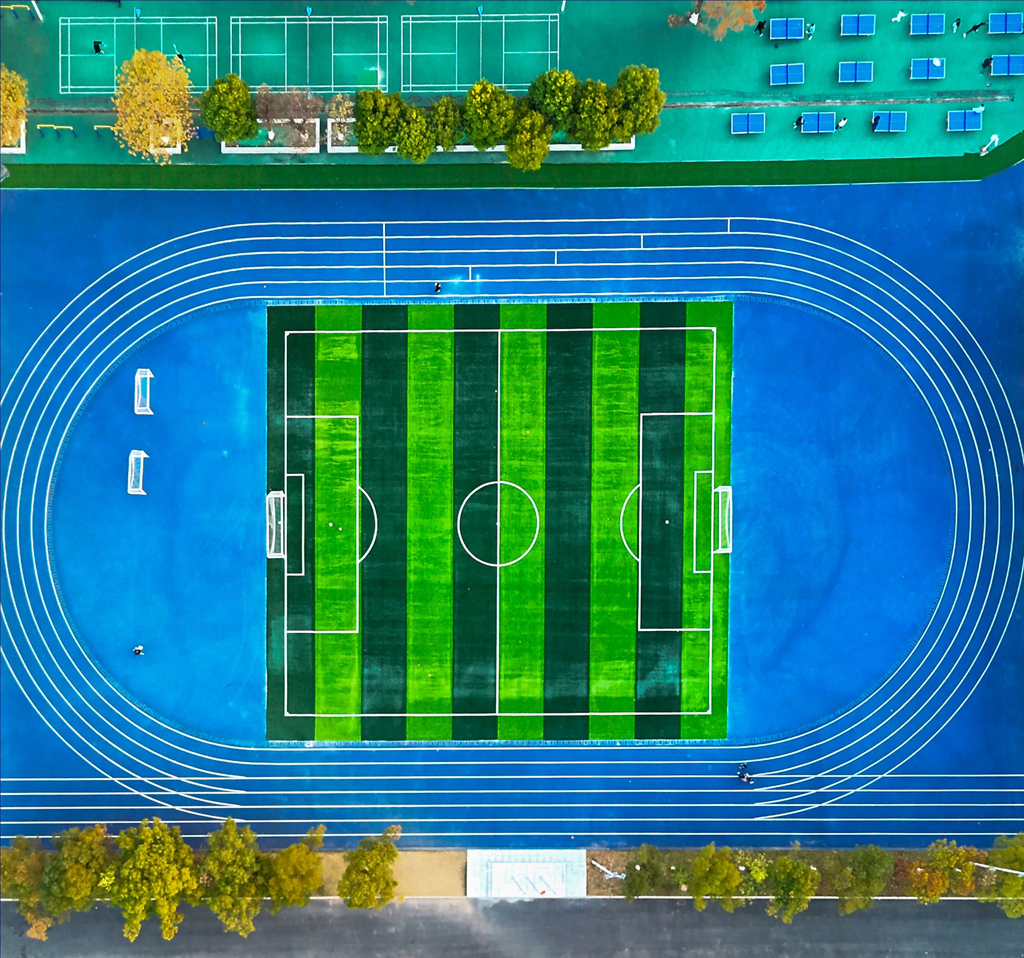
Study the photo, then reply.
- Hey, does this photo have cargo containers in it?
No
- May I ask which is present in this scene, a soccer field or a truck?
soccer field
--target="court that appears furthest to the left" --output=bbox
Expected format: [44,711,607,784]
[59,16,217,93]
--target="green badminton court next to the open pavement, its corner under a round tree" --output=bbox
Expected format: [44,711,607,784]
[401,13,559,91]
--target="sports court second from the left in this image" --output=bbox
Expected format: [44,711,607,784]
[230,15,388,92]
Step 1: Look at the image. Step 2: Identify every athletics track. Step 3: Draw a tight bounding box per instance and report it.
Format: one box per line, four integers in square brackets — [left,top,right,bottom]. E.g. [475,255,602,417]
[0,157,1024,848]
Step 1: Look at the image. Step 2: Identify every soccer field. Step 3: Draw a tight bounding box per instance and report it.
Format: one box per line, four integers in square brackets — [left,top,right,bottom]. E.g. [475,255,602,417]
[267,302,734,741]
